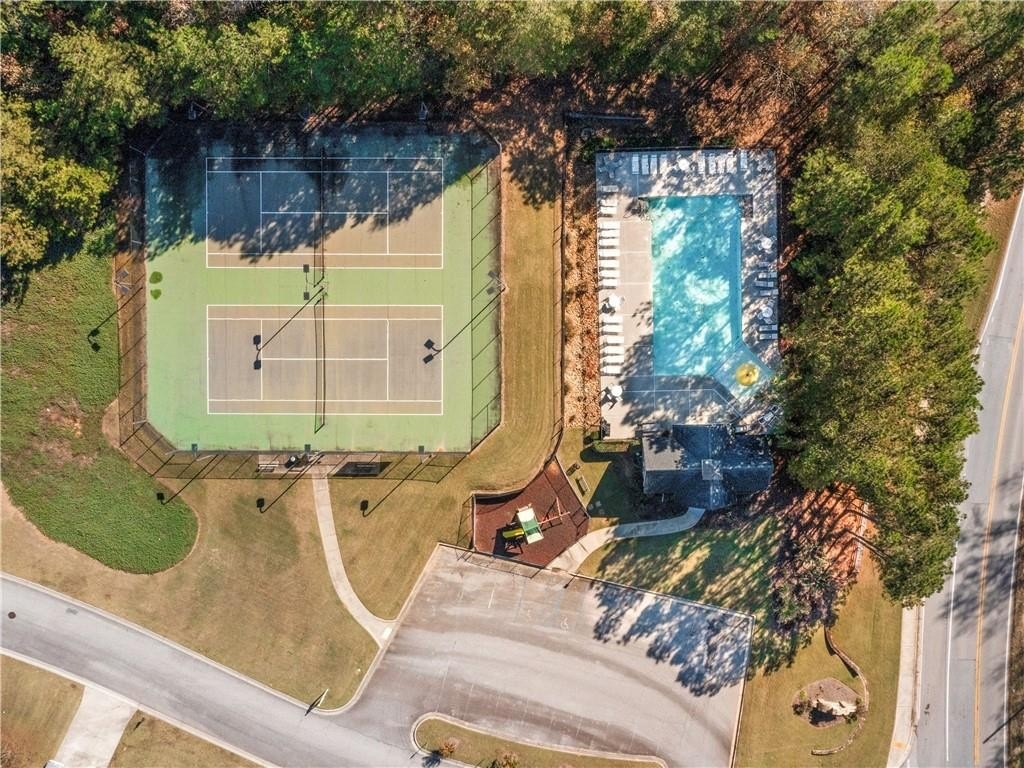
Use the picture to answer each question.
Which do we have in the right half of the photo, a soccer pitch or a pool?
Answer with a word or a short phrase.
pool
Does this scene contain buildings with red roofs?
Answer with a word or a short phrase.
No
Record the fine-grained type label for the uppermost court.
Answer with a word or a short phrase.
tennis court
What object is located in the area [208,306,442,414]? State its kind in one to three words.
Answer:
tennis court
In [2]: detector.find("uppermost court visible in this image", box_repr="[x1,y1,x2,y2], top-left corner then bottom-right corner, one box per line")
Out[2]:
[207,158,442,266]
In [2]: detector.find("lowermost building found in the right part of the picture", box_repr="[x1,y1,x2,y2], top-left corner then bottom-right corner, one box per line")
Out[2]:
[642,423,774,510]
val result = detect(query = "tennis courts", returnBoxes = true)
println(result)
[208,306,442,414]
[207,158,442,266]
